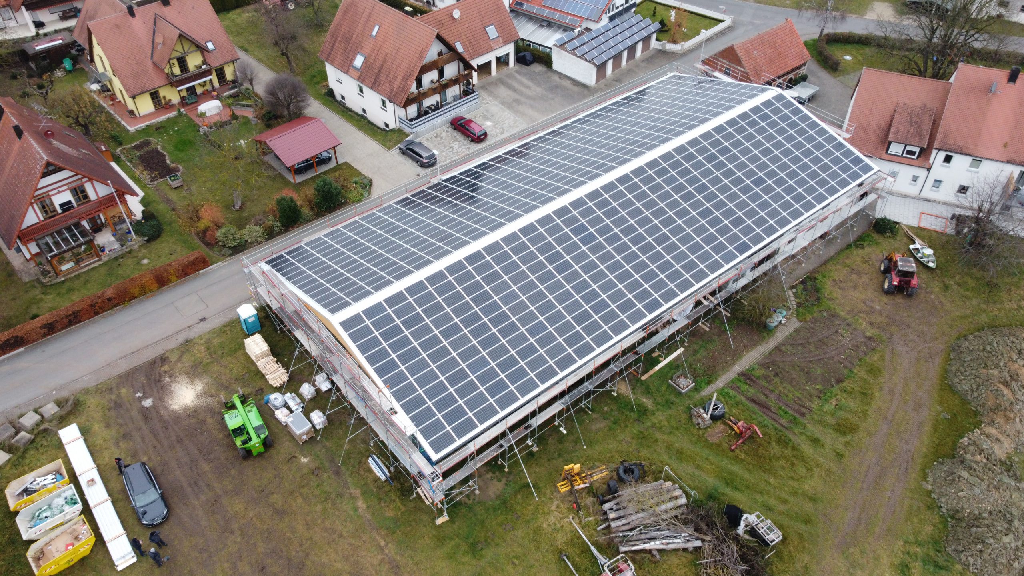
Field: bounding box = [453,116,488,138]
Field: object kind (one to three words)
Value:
car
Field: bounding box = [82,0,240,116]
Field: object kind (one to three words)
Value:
house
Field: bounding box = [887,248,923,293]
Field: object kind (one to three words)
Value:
work vehicle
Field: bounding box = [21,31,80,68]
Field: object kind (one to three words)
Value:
shed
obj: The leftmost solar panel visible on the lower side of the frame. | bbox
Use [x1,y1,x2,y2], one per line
[287,415,308,438]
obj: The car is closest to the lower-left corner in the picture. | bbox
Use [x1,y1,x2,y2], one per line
[118,461,172,528]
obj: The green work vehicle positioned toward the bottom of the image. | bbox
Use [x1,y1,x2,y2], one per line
[217,391,275,460]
